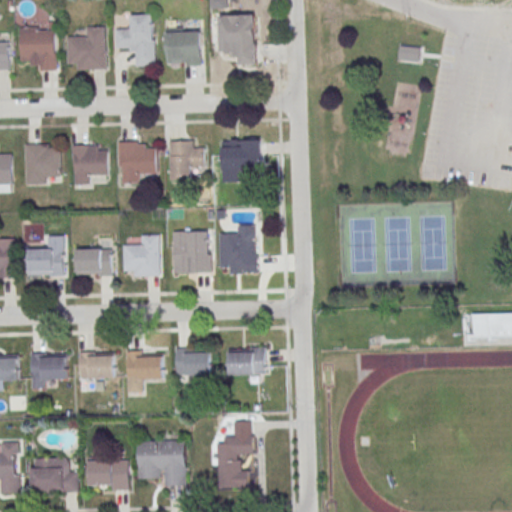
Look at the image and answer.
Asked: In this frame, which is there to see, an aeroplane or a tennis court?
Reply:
tennis court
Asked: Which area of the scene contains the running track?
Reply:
bottom right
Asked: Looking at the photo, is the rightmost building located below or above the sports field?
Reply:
above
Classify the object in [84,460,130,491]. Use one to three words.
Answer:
house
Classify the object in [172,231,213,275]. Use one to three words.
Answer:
house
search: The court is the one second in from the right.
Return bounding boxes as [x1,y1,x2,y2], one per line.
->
[383,217,412,273]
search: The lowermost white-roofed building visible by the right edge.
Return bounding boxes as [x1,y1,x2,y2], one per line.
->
[466,312,512,346]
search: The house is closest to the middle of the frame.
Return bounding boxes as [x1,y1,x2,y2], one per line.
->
[220,224,259,274]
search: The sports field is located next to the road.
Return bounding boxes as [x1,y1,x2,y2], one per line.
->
[355,366,512,512]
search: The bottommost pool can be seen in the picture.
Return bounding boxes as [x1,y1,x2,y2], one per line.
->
[44,430,77,448]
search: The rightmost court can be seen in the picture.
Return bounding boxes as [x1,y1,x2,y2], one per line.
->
[420,216,448,272]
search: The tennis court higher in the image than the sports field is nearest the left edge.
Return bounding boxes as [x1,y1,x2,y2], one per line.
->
[348,218,378,274]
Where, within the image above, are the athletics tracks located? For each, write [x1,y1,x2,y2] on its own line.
[339,350,512,512]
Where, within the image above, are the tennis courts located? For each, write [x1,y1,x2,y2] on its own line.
[348,218,378,274]
[383,217,412,273]
[420,216,448,272]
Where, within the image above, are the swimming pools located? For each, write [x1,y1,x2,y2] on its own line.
[0,398,10,413]
[18,0,36,18]
[44,430,77,448]
[232,212,255,224]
